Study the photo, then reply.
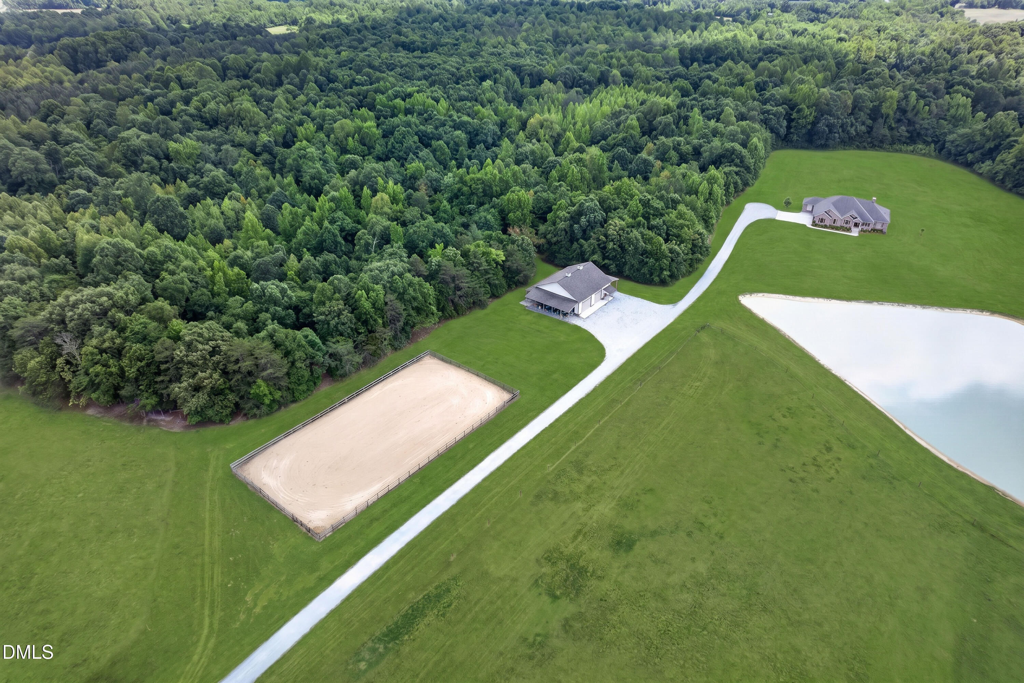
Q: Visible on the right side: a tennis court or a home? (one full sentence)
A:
It is a home that can be seen on the right side.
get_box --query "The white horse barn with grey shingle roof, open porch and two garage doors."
[525,262,619,321]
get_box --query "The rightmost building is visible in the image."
[802,196,891,233]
